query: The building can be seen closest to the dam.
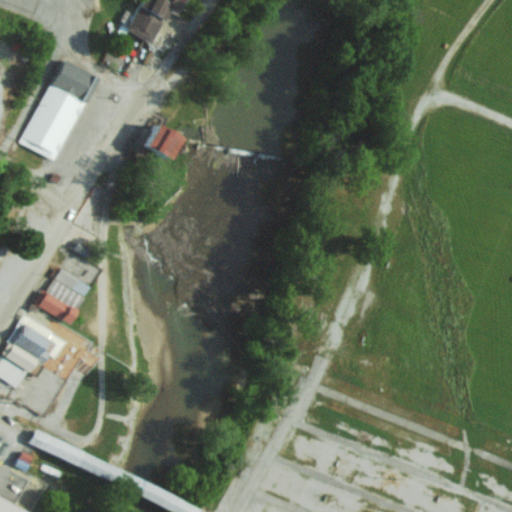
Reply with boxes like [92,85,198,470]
[144,124,186,163]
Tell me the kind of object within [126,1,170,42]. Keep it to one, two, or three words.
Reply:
house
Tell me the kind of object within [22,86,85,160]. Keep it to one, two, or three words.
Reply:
building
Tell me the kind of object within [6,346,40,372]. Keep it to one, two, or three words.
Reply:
building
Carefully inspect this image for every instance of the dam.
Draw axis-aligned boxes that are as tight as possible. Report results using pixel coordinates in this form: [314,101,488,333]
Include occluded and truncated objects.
[202,147,294,163]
